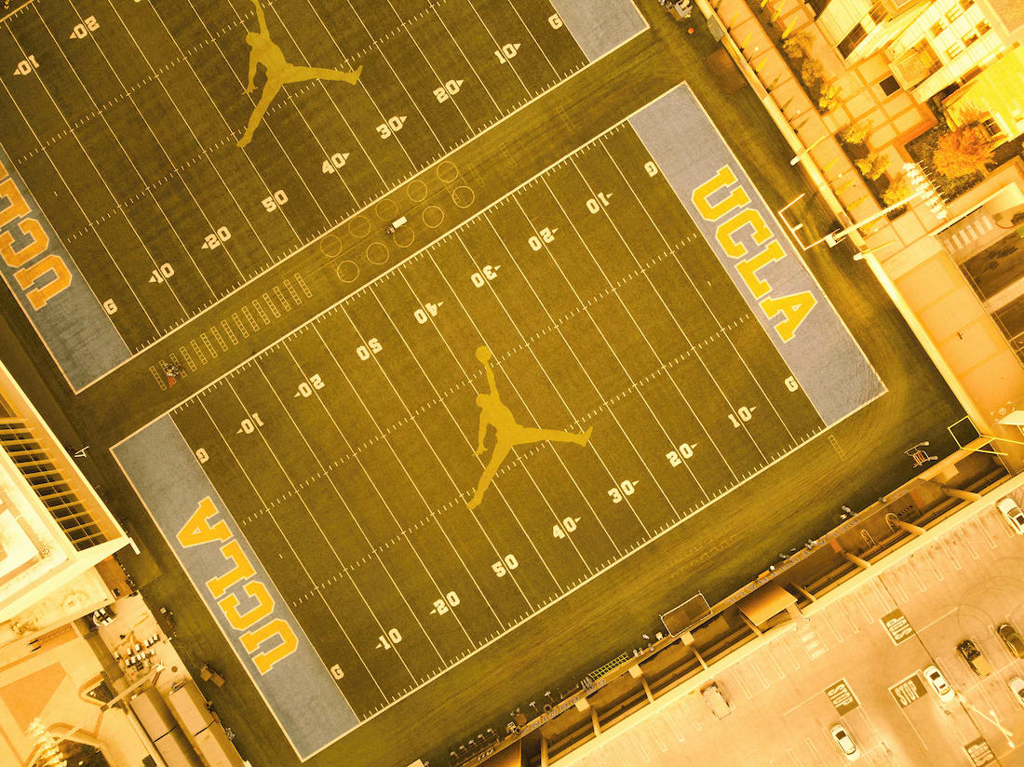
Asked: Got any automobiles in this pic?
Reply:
Yes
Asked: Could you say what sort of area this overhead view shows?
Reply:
sports ground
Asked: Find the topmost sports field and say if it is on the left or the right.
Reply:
left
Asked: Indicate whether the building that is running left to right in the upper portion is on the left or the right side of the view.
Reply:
right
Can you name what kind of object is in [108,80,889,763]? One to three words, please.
sports field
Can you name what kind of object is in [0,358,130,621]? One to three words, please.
building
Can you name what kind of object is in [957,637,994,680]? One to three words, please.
truck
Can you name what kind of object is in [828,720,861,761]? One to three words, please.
car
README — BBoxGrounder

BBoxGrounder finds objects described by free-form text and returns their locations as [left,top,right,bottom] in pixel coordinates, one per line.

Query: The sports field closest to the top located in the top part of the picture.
[0,0,651,395]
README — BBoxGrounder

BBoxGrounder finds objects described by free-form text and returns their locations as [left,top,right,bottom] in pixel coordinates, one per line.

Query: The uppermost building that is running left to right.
[795,0,1024,105]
